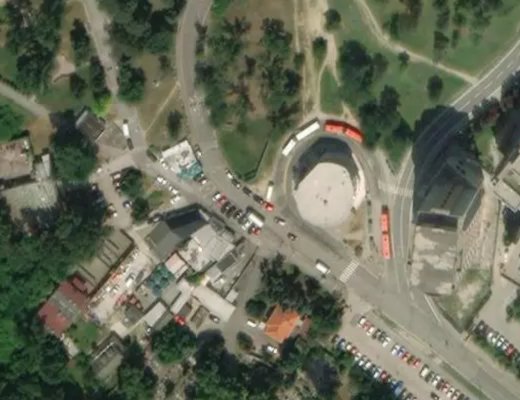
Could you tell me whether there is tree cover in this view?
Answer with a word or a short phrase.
Yes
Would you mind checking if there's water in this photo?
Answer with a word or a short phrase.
No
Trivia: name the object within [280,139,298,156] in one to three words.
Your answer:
vehicle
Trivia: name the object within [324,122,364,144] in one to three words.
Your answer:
bus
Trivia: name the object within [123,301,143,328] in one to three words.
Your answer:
building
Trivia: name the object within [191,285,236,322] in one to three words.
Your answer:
shed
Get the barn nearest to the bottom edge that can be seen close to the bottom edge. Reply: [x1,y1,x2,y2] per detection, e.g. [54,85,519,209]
[89,332,122,385]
